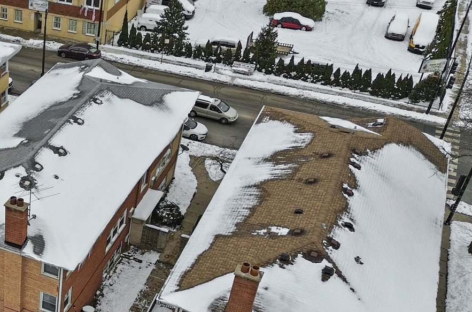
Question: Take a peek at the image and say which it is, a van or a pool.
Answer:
van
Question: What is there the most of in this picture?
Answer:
buildings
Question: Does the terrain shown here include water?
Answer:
No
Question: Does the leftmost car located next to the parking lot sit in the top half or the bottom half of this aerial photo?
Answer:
top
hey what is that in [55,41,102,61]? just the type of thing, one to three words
car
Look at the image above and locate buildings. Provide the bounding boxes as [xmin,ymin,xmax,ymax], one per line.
[0,0,144,44]
[156,104,448,312]
[0,61,198,312]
